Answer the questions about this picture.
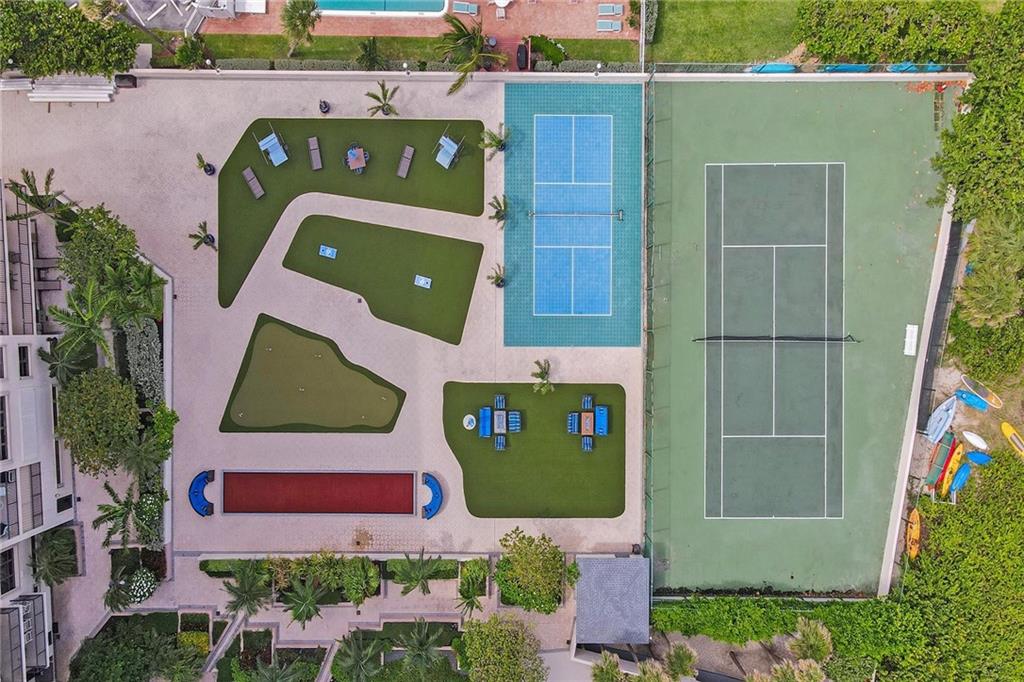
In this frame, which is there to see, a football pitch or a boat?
boat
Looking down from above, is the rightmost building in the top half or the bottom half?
bottom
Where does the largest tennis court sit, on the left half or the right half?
right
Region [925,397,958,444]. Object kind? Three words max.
boat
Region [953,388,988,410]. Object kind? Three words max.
boat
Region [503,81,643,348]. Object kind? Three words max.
sports court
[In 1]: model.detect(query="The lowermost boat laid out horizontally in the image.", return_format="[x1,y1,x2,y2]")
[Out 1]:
[965,451,992,464]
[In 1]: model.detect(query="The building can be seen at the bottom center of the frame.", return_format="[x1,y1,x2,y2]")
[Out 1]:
[576,550,652,644]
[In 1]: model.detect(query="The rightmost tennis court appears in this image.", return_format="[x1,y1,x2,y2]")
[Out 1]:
[651,81,958,594]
